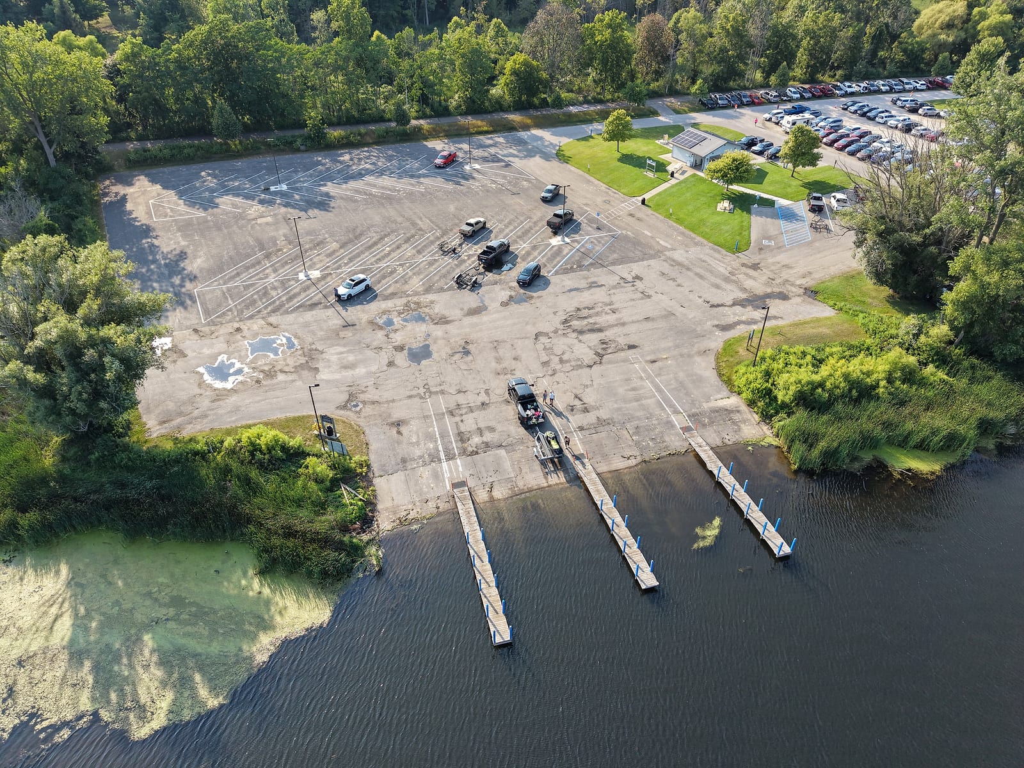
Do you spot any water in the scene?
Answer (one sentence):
Yes, there's water in this view.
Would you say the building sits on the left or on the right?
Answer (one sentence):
It is on the right.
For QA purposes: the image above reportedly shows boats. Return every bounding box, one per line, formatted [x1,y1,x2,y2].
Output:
[547,428,565,454]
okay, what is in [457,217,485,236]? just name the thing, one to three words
vehicle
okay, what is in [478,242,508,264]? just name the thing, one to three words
truck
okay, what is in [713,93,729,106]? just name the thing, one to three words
vehicle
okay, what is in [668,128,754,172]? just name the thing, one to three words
building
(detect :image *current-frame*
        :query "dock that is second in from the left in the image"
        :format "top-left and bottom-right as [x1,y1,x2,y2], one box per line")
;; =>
[568,446,663,592]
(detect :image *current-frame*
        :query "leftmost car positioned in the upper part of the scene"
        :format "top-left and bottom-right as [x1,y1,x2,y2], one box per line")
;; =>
[332,273,370,299]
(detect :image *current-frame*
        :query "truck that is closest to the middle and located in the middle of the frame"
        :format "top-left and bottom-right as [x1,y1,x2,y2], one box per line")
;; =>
[511,378,544,423]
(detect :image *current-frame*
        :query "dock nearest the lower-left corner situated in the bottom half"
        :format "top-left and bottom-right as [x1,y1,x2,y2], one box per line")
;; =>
[450,477,516,647]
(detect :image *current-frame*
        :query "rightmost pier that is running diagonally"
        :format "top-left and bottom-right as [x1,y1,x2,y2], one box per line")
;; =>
[679,421,796,559]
